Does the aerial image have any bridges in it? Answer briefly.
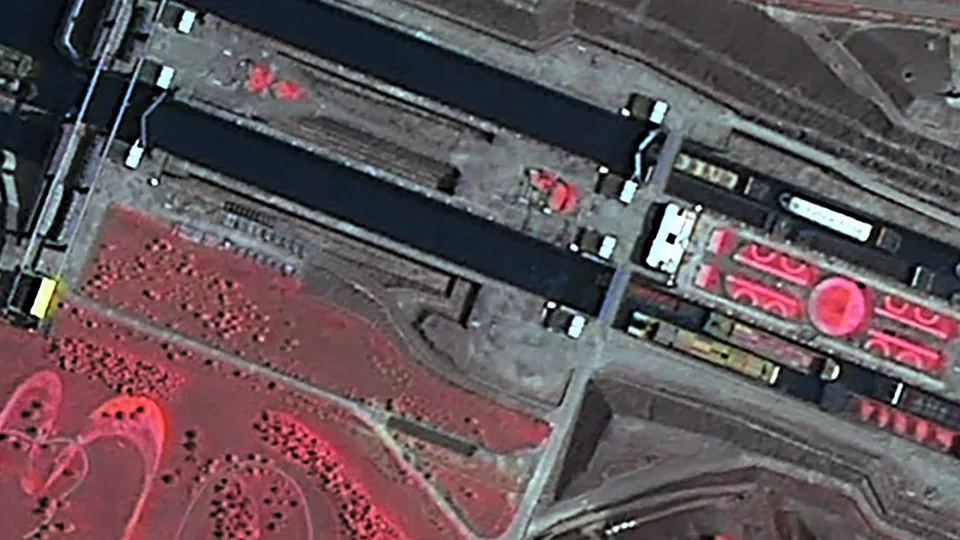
Yes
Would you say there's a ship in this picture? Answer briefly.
Yes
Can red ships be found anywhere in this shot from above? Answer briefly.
Yes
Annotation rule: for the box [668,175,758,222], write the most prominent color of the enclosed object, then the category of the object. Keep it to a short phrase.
black ship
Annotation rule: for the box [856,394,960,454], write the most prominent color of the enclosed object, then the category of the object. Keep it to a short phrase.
red ship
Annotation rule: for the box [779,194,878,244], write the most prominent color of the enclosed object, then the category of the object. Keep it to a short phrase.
white ship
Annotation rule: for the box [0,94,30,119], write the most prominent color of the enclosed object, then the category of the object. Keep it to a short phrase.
gray ship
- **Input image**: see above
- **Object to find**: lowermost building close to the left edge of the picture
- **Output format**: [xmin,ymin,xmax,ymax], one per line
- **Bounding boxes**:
[28,278,55,319]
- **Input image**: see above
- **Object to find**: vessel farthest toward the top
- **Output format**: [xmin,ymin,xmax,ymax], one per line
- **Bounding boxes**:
[0,42,39,87]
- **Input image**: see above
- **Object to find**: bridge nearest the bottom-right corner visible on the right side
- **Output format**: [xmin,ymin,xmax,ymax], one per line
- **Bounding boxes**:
[597,261,637,328]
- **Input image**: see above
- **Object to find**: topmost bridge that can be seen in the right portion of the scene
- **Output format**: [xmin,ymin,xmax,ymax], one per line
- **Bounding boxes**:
[641,127,683,198]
